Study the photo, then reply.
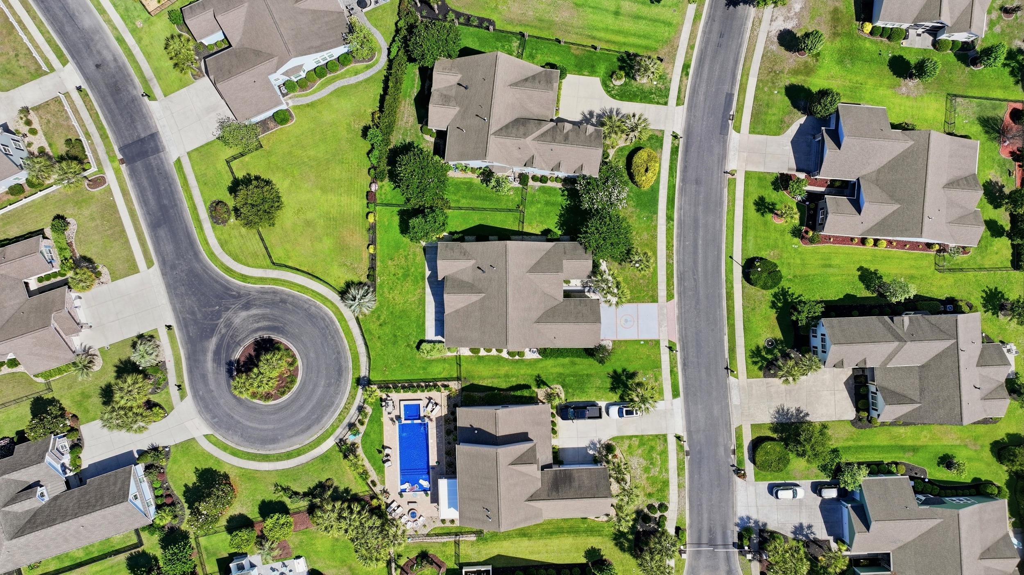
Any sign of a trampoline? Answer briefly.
No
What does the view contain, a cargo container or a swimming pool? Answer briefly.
swimming pool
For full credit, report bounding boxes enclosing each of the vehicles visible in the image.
[772,485,805,503]
[816,485,849,502]
[559,406,602,424]
[608,406,643,423]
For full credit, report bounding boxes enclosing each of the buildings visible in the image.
[0,128,38,191]
[0,236,93,382]
[838,474,1023,575]
[462,558,494,575]
[0,433,168,574]
[436,239,603,350]
[810,104,986,247]
[868,0,986,45]
[182,0,350,124]
[438,399,611,533]
[428,52,604,177]
[810,310,1014,425]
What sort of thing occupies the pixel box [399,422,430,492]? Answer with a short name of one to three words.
swimming pool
